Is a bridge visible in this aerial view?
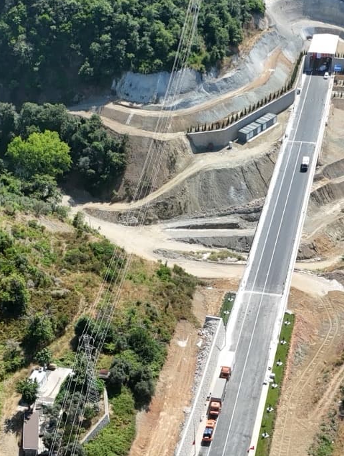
Yes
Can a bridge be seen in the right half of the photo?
Yes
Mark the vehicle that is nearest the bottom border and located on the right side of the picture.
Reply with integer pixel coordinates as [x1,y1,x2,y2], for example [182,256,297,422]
[198,415,216,441]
